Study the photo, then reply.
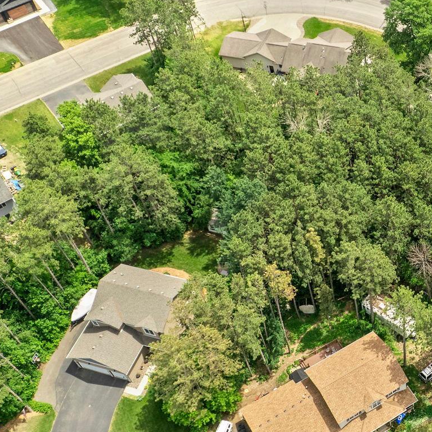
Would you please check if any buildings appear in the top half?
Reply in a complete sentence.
Yes, looking in the top half, one can make out a building.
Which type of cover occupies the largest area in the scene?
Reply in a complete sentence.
What you mostly see from above here is trees.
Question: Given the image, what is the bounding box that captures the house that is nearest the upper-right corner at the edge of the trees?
[224,28,354,87]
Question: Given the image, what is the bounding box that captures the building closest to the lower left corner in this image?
[67,267,176,380]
